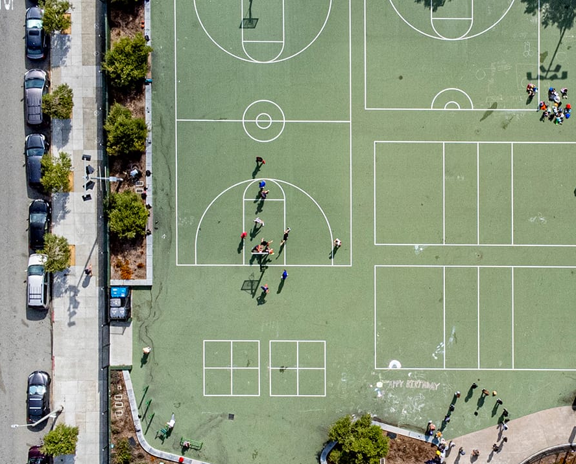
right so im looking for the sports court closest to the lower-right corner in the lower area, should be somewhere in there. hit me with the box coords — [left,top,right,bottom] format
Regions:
[374,266,576,371]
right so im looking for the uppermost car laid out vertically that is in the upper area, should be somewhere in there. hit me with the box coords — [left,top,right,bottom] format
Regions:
[24,7,49,61]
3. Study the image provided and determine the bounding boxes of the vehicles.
[26,253,52,309]
[21,133,48,187]
[26,444,50,464]
[25,371,52,423]
[22,68,49,126]
[26,198,52,252]
[24,7,49,61]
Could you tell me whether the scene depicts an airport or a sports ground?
sports ground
